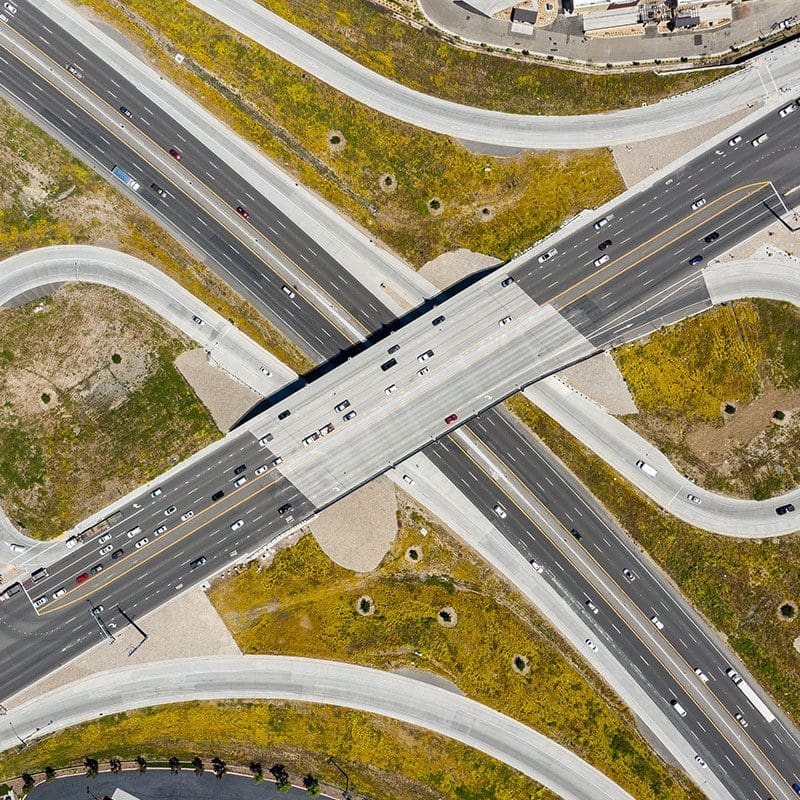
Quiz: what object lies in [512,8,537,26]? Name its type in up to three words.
building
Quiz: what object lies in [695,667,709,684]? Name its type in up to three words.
vehicle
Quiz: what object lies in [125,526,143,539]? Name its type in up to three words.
vehicle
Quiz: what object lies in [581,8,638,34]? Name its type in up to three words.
building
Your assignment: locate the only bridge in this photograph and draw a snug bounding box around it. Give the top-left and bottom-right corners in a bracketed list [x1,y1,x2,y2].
[240,264,607,515]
